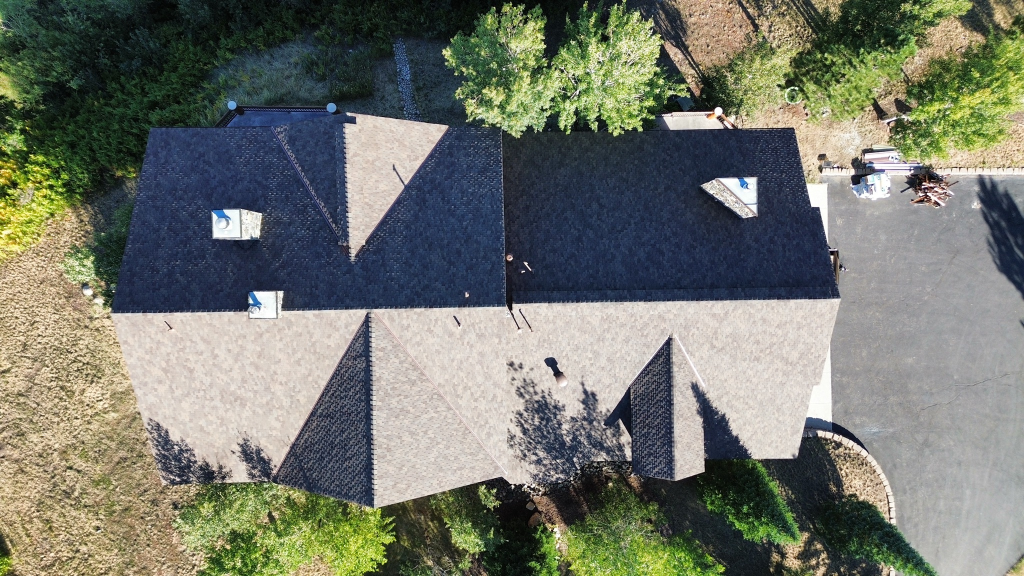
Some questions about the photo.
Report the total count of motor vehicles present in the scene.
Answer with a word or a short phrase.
0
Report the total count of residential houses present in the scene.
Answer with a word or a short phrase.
1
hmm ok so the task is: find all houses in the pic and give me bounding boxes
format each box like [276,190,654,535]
[110,111,848,508]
